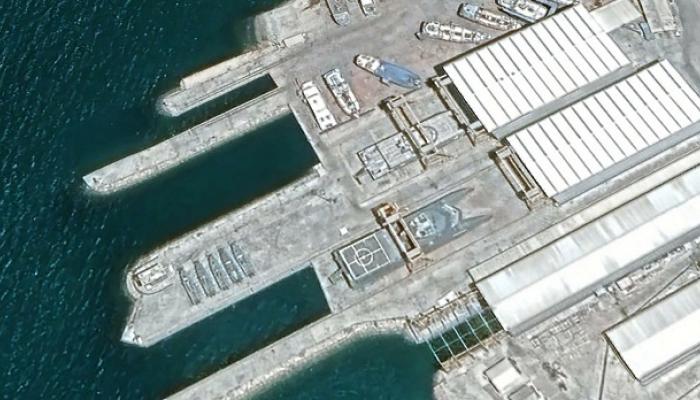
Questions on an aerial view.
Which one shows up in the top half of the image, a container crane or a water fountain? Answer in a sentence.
You can see a container crane in the top half of the image.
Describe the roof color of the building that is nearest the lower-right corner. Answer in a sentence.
The color of the roof on the building that is nearest the lower-right corner is white.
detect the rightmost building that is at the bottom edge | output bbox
[606,284,700,383]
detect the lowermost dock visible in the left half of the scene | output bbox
[165,313,336,400]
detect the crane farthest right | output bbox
[496,144,548,204]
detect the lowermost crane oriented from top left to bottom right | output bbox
[375,201,426,267]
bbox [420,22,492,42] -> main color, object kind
white ship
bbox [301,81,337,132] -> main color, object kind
white ship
